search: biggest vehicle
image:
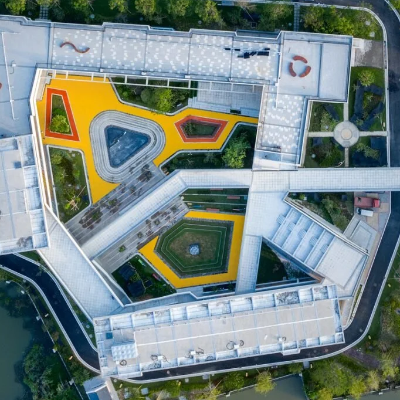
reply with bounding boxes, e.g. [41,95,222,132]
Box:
[354,197,381,210]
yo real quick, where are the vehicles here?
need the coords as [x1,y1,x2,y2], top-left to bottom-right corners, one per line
[354,197,381,210]
[357,209,374,218]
